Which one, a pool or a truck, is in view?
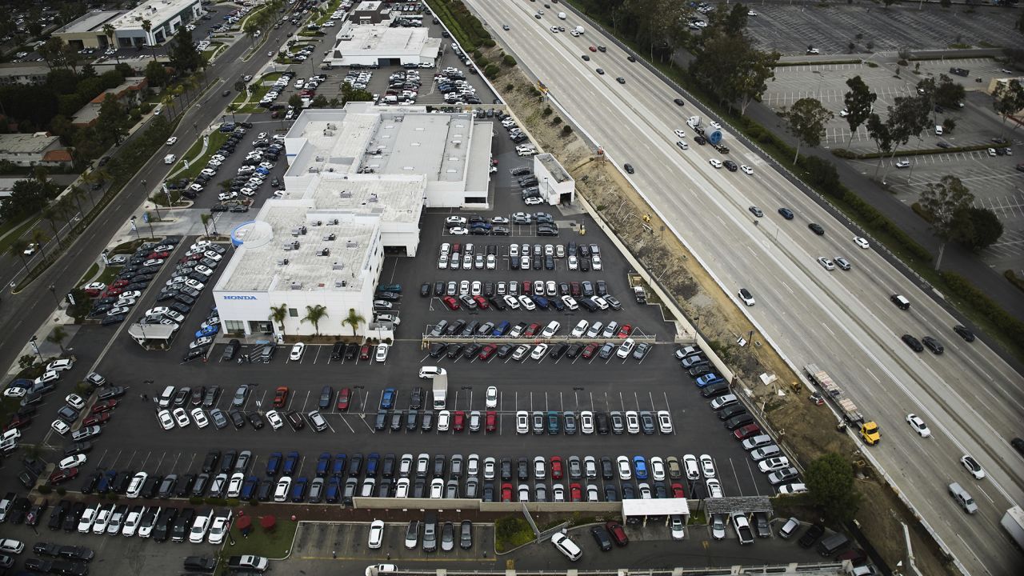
truck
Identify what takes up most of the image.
paved ground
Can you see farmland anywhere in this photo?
No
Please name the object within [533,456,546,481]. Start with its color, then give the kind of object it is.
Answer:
gray vehicle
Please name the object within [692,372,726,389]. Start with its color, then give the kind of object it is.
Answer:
blue vehicle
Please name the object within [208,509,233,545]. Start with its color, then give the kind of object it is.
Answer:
white truck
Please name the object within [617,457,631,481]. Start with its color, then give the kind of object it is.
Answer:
white car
